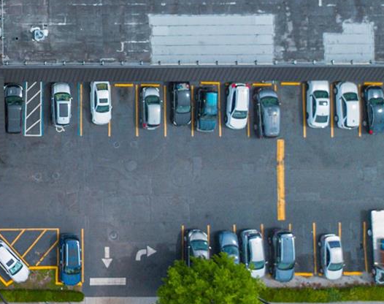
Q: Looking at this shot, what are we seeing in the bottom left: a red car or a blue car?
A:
blue car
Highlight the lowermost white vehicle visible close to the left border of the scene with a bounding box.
[0,239,32,285]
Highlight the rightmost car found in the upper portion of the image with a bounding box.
[358,85,384,135]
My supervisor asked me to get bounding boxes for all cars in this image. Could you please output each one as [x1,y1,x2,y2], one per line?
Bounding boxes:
[88,83,114,126]
[0,239,32,285]
[267,230,296,281]
[252,87,281,139]
[138,86,163,130]
[314,232,343,279]
[48,83,74,131]
[330,83,360,129]
[212,227,239,269]
[223,83,251,129]
[57,233,83,283]
[358,85,384,135]
[193,87,219,133]
[182,226,210,275]
[237,229,265,278]
[302,83,330,128]
[168,83,194,126]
